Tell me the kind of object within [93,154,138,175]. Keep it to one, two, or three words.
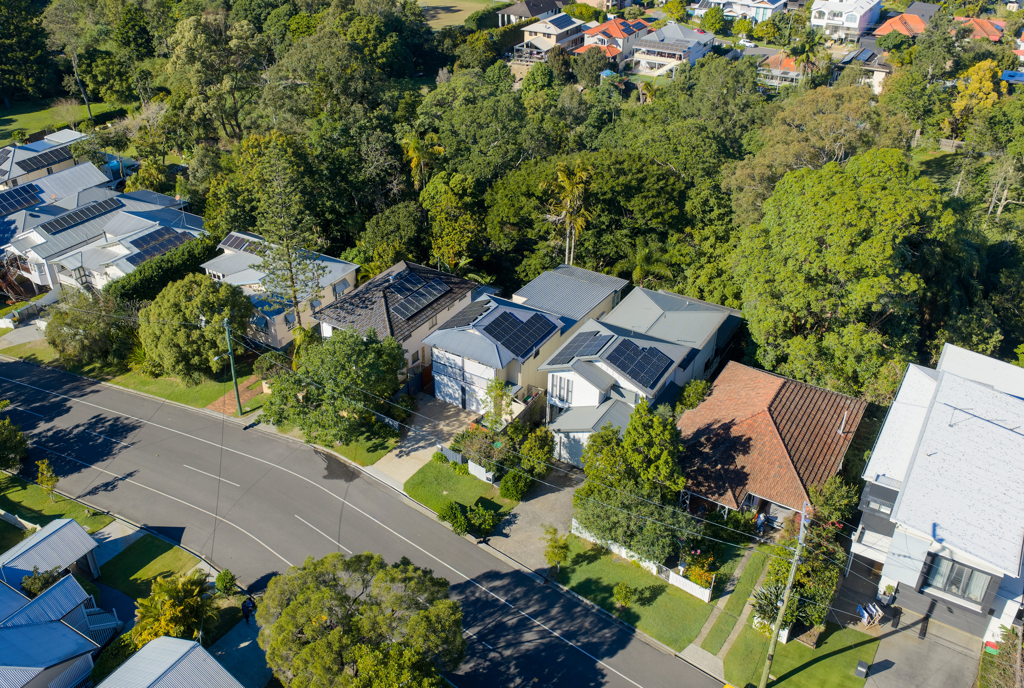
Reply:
swimming pool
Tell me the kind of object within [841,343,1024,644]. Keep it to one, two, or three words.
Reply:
house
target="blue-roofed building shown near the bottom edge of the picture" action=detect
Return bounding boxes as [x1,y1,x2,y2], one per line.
[0,573,125,688]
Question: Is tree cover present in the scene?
Yes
